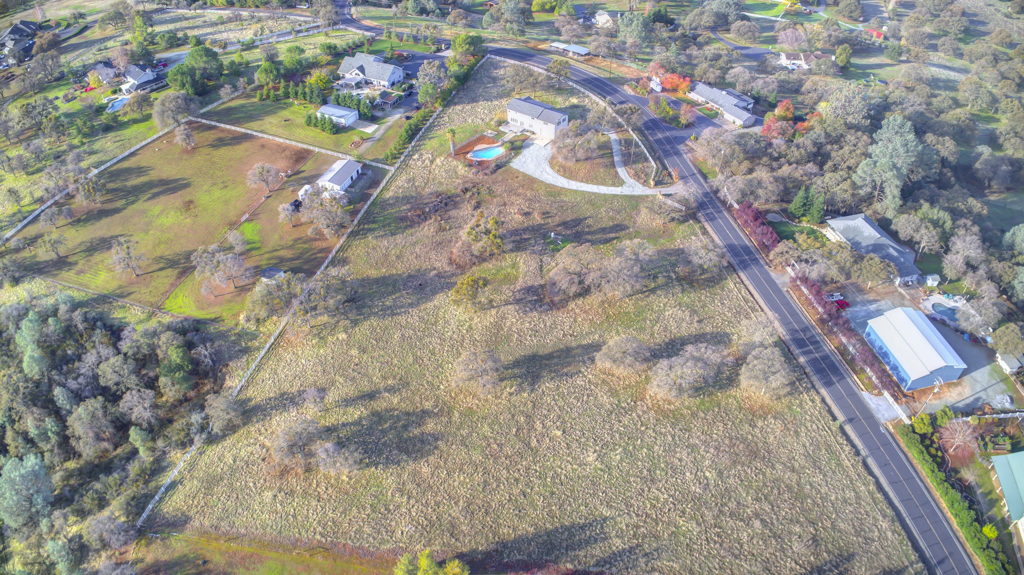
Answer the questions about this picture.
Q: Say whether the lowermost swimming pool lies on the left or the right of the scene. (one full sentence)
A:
The lowermost swimming pool appears in the right half of the scene.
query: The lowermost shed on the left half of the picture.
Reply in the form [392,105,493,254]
[259,261,284,282]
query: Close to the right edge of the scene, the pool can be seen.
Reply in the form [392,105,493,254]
[921,295,995,339]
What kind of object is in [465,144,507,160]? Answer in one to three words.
swimming pool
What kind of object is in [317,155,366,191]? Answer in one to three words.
barn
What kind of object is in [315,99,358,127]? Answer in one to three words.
building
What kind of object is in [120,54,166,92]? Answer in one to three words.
house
